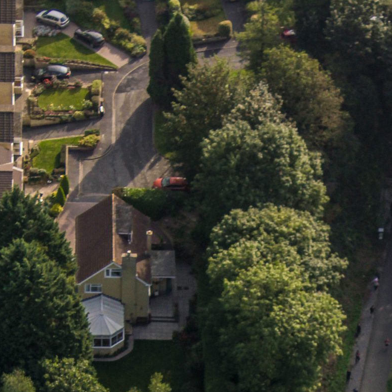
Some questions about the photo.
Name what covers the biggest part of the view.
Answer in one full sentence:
For the most part, this view shows trees.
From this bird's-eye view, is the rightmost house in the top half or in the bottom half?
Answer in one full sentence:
The rightmost house is in the bottom half of the image.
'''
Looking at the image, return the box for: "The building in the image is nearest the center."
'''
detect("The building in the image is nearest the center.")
[74,199,181,344]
